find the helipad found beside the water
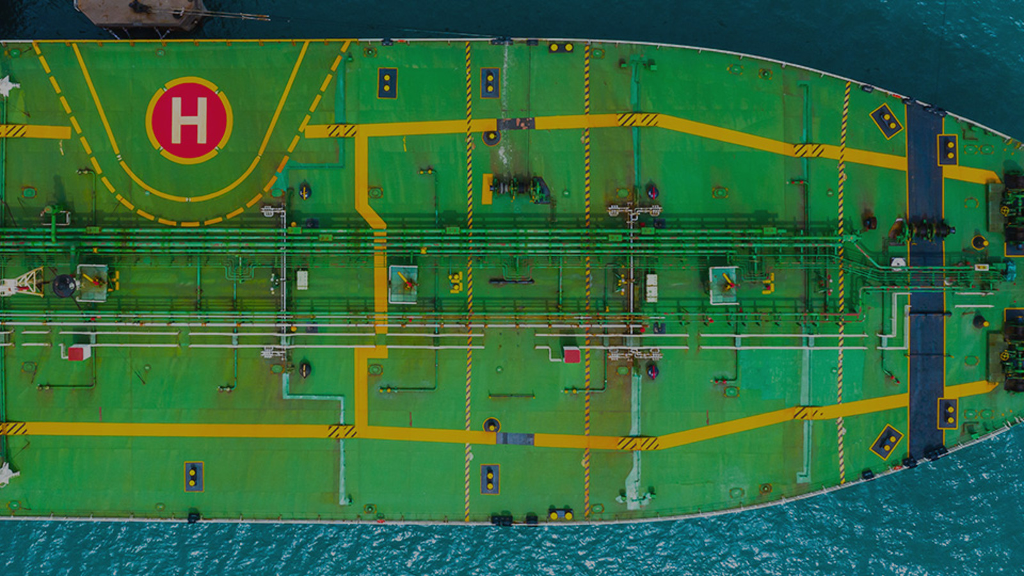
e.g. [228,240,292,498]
[32,43,348,227]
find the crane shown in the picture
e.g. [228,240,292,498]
[0,266,50,297]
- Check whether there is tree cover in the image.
No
